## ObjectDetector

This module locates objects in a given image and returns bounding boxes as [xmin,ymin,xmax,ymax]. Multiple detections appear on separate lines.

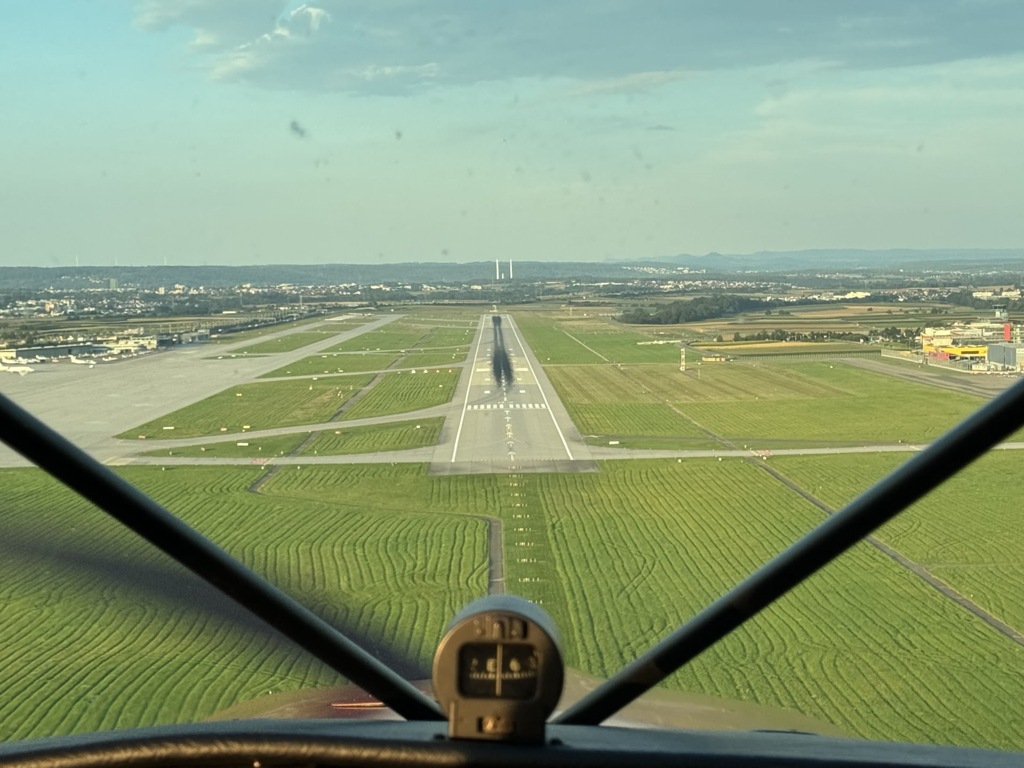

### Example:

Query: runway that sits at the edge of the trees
[385,317,617,473]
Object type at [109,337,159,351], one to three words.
building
